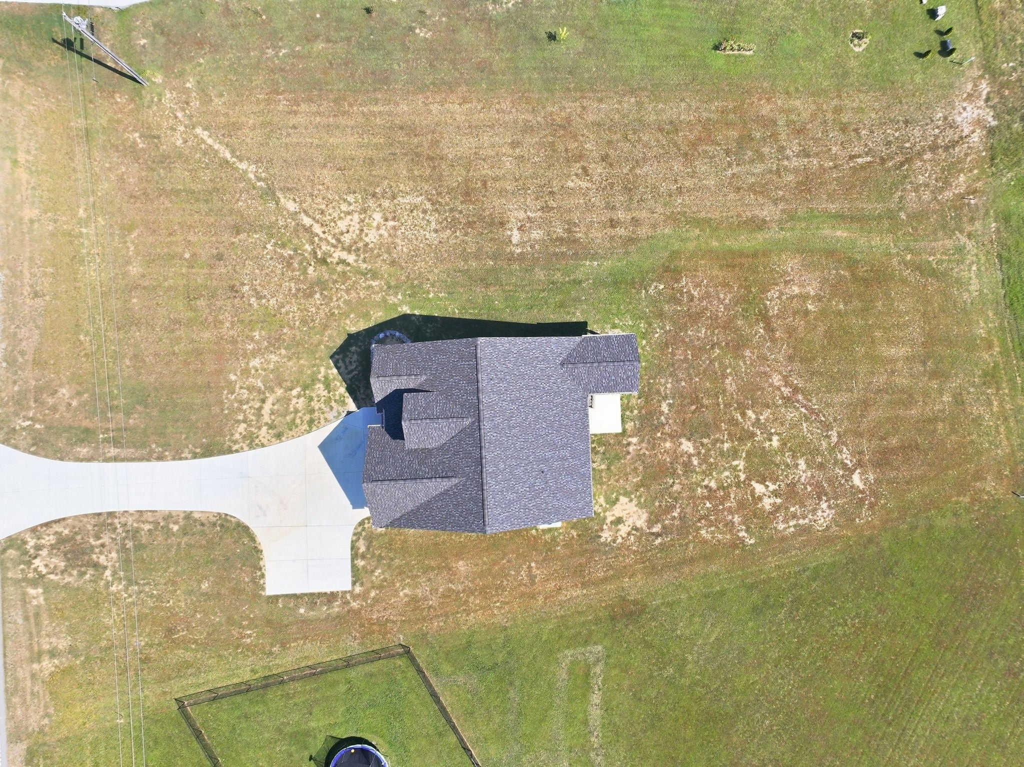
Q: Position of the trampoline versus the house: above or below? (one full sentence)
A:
Within the scene, the trampoline can be found below the house.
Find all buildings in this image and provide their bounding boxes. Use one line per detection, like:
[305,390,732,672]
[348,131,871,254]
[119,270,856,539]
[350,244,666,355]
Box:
[361,331,641,534]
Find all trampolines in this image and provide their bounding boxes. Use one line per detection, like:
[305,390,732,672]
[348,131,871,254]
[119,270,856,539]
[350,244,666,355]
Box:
[330,739,395,767]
